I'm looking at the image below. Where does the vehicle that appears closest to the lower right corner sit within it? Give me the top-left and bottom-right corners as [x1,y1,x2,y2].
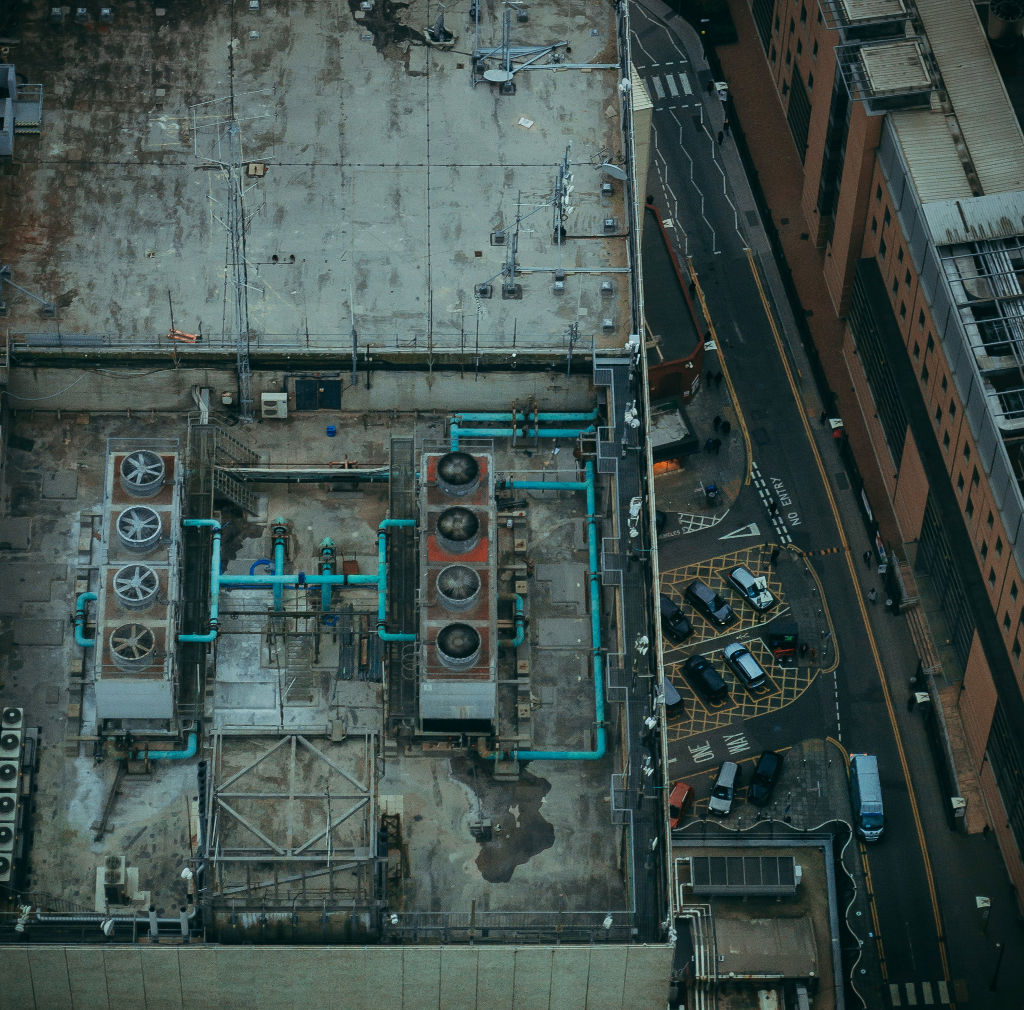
[851,753,887,840]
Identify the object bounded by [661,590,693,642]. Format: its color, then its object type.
black car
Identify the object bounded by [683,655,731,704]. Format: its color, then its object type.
black car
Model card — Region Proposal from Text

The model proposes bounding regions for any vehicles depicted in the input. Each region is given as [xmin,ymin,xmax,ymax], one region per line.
[661,590,693,642]
[683,655,731,704]
[672,781,695,829]
[684,577,735,628]
[665,672,687,716]
[728,566,774,612]
[708,762,741,816]
[851,753,887,840]
[722,644,769,693]
[656,506,678,533]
